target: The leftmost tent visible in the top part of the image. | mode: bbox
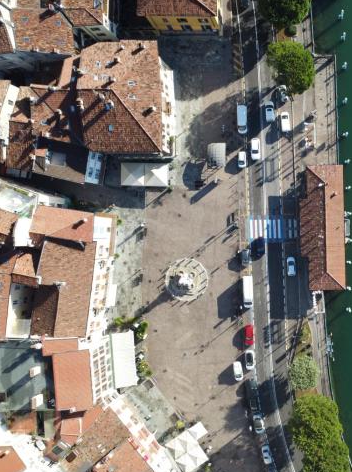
[121,163,149,188]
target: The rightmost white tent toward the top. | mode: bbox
[146,163,173,189]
